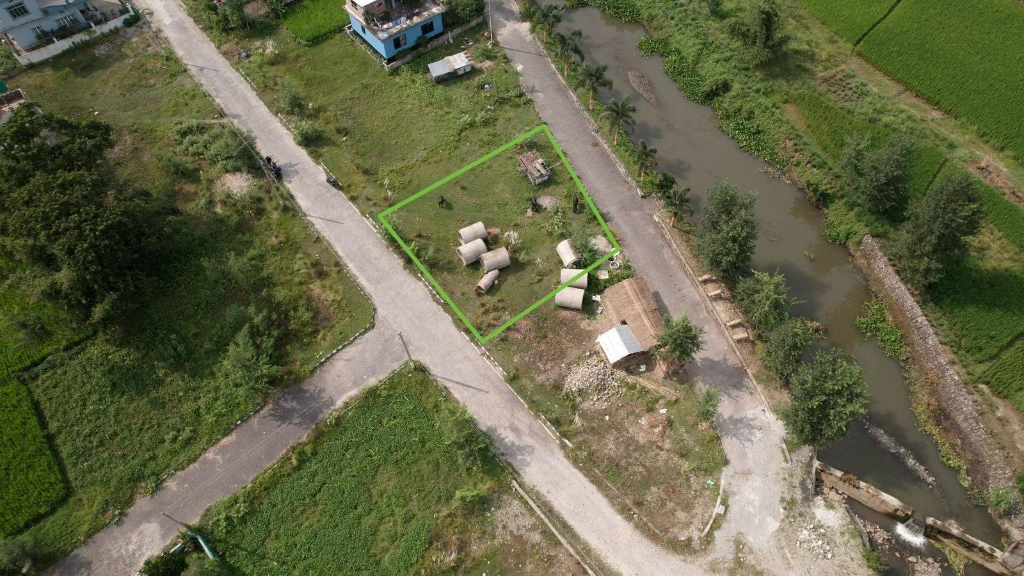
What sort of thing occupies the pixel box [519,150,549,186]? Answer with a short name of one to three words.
shed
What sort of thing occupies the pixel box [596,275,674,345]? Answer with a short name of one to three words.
shed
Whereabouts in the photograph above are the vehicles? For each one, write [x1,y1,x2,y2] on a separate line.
[265,158,280,170]
[271,163,282,179]
[325,170,337,185]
